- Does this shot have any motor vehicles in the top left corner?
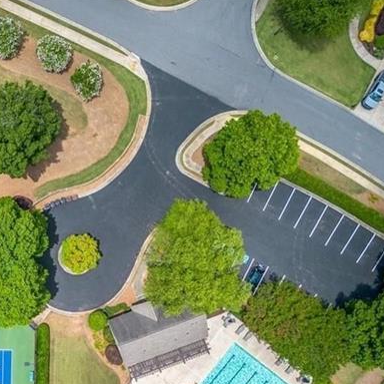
No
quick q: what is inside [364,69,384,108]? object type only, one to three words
vehicle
